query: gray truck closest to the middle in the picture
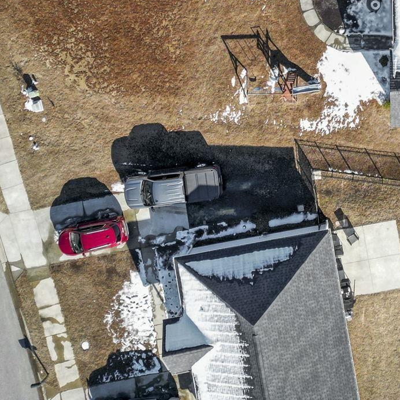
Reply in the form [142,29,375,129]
[121,162,225,210]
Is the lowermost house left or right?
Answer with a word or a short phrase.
right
